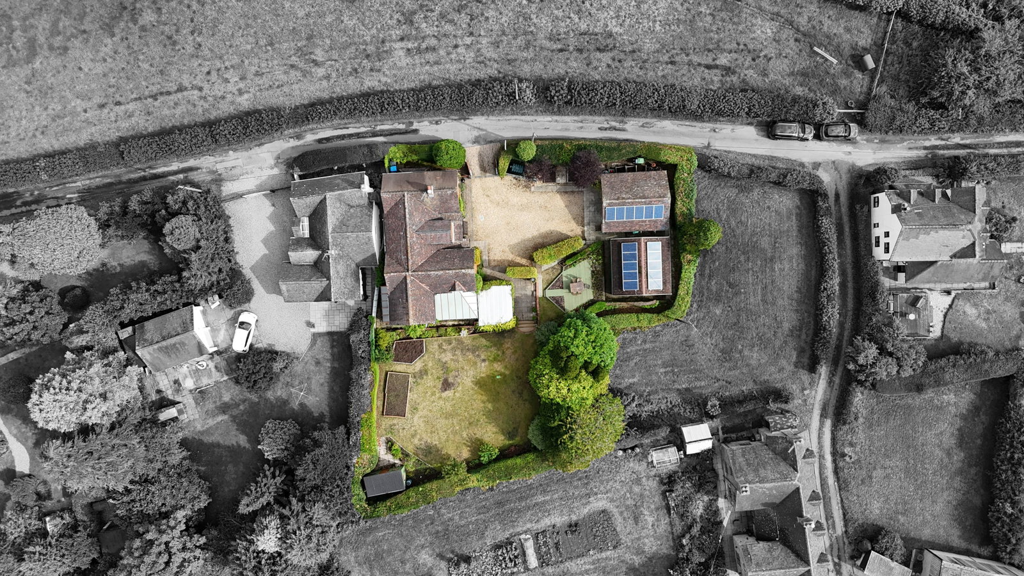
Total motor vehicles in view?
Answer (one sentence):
Looking from above, you can make out 3 motor vehicles.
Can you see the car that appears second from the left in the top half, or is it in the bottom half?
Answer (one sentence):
It is in the top half that the car that appears second from the left appears.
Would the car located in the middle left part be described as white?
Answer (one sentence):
Yes, the car located in the middle left part appears white.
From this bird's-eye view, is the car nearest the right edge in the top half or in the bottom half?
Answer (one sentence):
The car nearest the right edge is in the top half of the image.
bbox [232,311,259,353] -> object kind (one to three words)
car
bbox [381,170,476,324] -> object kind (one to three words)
house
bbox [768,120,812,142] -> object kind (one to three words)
car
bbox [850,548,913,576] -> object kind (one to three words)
shed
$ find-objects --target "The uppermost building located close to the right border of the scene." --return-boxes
[873,183,1007,261]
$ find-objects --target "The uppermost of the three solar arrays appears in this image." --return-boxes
[605,205,665,221]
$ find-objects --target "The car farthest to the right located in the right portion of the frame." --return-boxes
[819,121,857,142]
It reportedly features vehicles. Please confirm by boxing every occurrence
[819,121,857,142]
[768,120,812,142]
[232,311,259,353]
